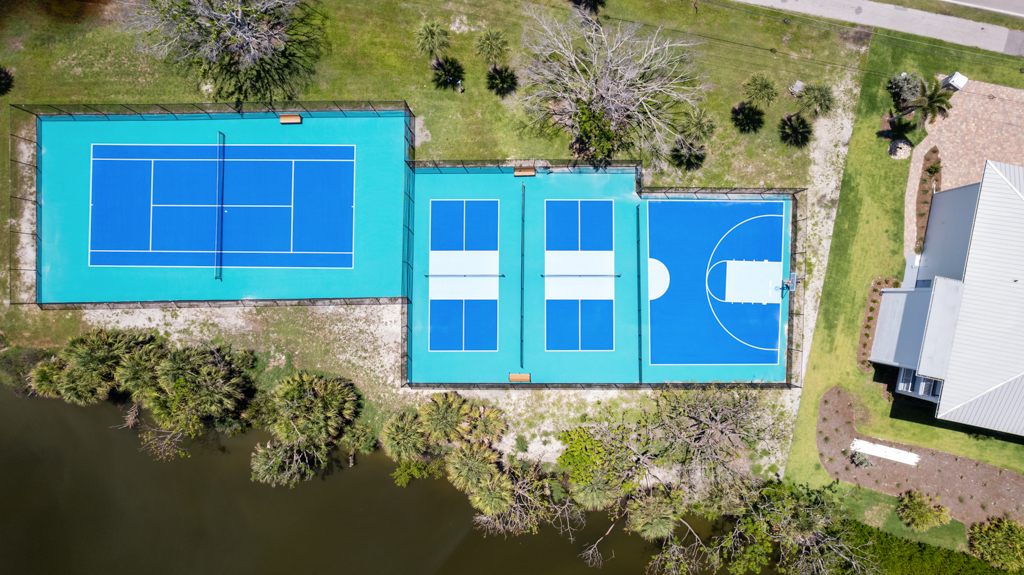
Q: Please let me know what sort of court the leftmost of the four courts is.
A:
tennis court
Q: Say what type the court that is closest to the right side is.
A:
basketball court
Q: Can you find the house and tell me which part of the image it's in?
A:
right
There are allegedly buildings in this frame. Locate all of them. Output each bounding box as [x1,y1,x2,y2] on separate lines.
[867,158,1024,436]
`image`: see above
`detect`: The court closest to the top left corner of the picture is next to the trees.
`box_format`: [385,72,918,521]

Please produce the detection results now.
[37,111,411,303]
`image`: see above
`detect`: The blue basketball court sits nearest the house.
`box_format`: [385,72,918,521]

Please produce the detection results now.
[648,200,784,364]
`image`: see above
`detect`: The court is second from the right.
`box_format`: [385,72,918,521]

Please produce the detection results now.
[545,200,614,352]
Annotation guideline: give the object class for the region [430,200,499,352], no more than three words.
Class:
sports court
